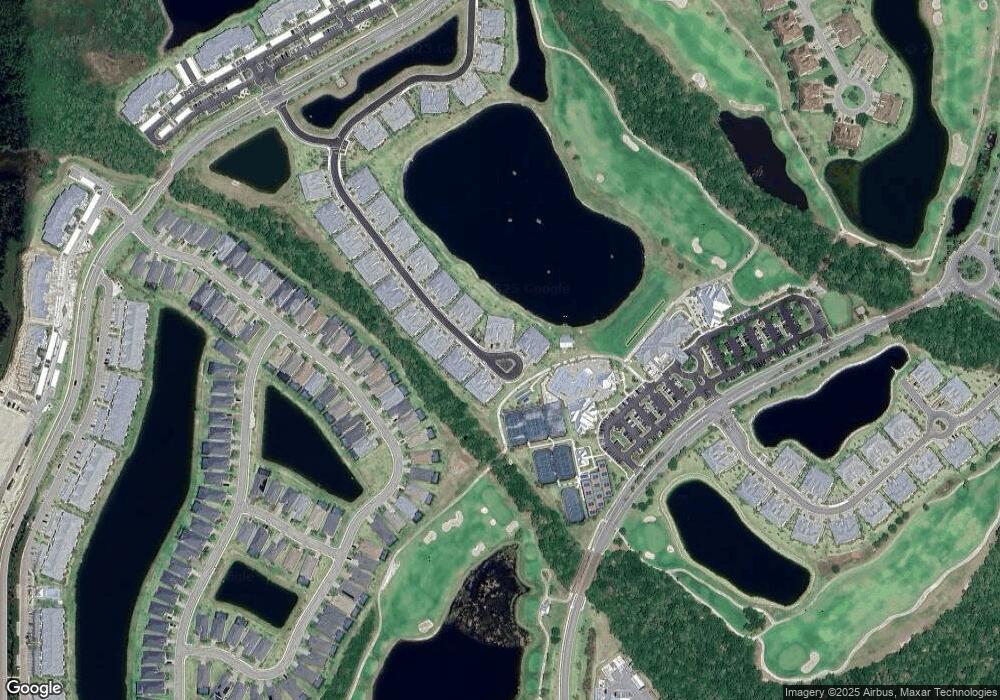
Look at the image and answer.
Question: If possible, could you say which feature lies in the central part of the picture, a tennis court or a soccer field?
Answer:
tennis court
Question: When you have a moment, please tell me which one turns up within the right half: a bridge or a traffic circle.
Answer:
traffic circle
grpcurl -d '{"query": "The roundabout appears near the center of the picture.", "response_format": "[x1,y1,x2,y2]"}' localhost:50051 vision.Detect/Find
[483,351,522,380]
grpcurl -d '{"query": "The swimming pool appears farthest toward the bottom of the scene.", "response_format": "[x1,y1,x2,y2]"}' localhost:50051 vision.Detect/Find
[37,587,60,602]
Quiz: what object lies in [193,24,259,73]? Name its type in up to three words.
building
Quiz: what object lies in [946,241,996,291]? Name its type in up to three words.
roundabout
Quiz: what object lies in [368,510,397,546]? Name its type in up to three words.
house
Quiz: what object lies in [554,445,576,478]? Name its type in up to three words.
tennis court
